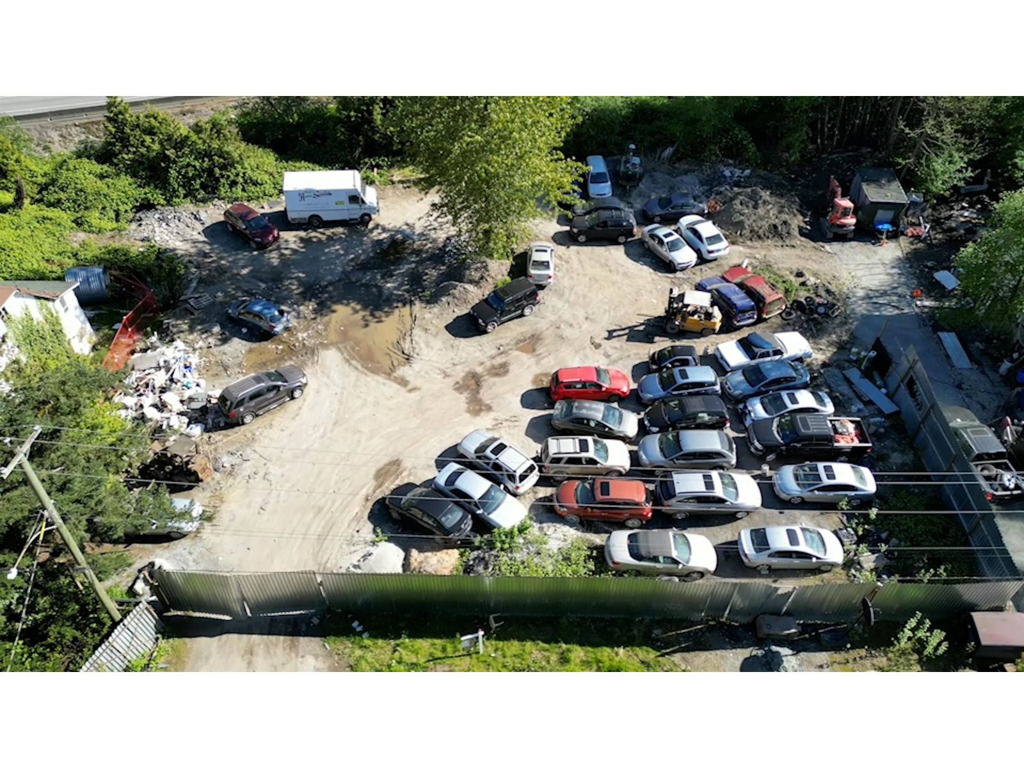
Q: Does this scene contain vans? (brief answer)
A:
Yes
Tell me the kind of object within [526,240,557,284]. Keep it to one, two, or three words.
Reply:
car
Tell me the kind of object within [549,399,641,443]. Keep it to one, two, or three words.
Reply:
car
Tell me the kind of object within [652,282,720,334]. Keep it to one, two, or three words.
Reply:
work vehicle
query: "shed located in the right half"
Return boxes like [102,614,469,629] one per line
[843,159,923,232]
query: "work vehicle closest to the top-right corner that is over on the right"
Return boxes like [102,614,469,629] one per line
[819,169,856,234]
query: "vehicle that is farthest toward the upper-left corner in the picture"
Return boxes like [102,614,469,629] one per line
[222,204,279,250]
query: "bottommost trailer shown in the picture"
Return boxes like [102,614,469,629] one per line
[964,611,1024,667]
